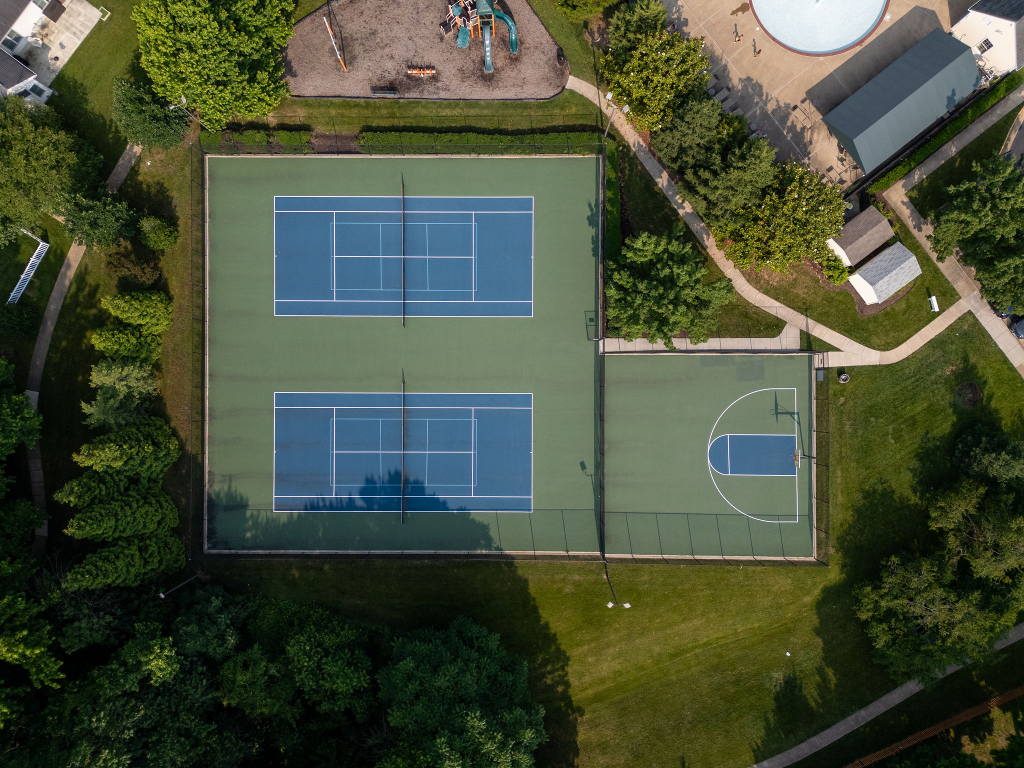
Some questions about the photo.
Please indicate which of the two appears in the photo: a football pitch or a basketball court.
basketball court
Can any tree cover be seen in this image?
Yes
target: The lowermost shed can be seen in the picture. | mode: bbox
[848,242,920,305]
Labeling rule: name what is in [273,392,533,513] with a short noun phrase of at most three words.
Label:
tennis court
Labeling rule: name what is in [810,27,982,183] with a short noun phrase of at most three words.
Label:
building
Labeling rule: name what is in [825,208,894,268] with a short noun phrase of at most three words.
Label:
shed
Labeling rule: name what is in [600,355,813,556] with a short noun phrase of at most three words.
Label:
basketball court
